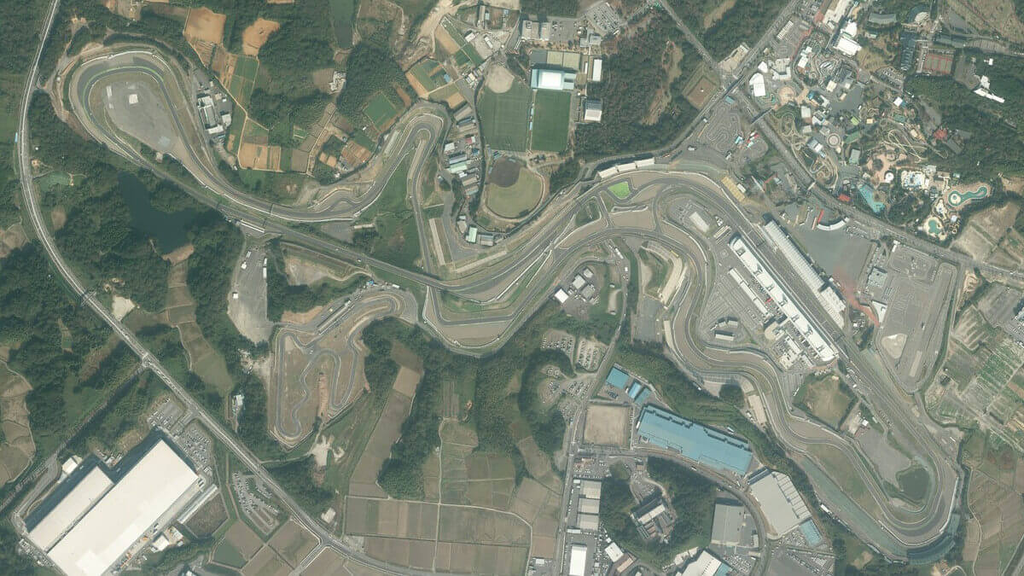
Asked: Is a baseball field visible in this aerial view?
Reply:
Yes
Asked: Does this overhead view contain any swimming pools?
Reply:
Yes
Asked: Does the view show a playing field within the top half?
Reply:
Yes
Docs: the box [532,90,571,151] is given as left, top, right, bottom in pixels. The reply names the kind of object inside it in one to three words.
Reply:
soccer field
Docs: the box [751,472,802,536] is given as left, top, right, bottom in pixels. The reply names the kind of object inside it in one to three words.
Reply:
building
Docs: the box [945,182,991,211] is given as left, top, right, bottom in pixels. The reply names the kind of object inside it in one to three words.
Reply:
swimming pool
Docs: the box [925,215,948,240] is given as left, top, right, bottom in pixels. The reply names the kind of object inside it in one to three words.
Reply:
swimming pool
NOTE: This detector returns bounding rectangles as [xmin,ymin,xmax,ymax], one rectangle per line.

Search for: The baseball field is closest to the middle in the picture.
[485,155,544,222]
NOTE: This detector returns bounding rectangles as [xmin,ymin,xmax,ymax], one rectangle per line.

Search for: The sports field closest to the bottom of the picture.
[582,405,630,448]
